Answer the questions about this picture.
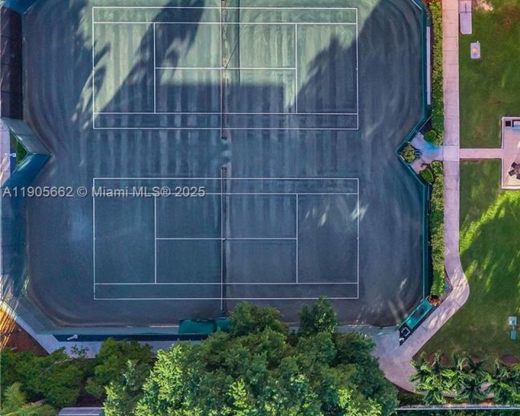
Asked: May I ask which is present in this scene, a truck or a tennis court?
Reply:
tennis court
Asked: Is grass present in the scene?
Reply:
Yes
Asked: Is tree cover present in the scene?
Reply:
Yes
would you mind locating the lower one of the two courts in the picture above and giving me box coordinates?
[26,153,426,327]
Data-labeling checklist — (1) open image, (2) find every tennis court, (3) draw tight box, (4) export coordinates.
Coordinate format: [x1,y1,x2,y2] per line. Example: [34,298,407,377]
[26,153,426,327]
[22,0,426,153]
